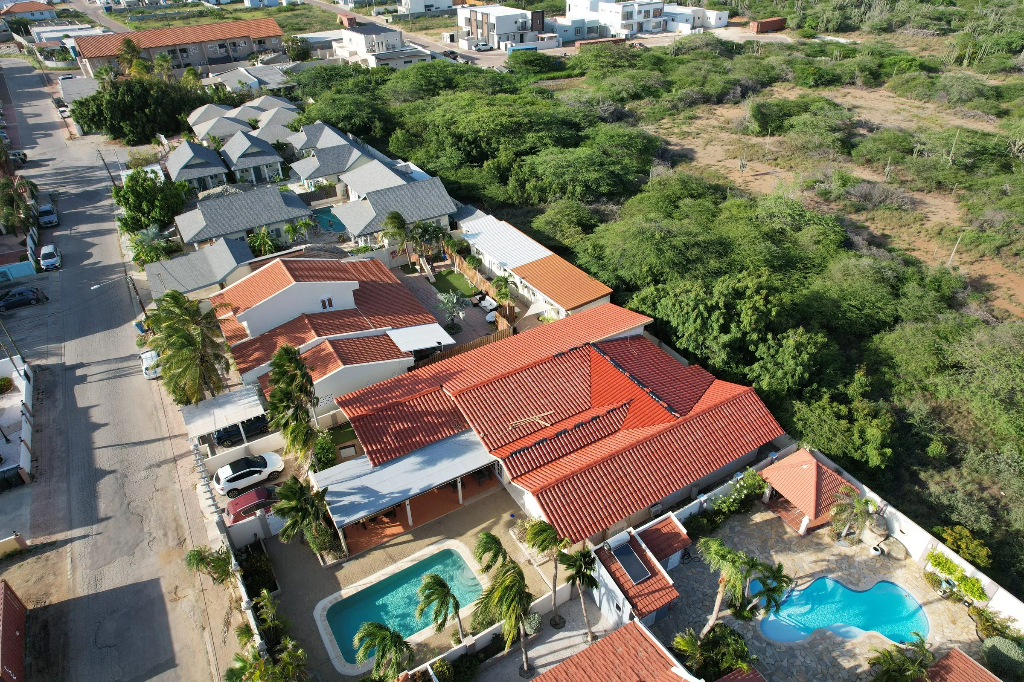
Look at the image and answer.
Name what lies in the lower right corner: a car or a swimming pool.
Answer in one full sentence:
There is a swimming pool in the lower right corner.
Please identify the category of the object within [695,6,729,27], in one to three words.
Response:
house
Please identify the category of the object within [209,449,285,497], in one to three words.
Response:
car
